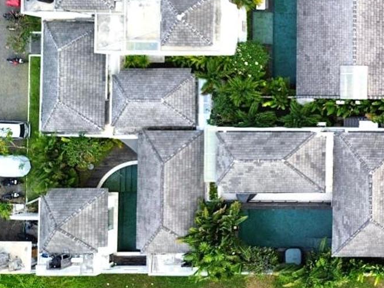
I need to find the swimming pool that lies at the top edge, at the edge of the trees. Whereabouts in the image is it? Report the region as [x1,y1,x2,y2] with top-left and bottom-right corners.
[252,0,296,89]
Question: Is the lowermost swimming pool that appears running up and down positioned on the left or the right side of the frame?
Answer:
left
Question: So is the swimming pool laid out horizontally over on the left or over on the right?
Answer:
right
